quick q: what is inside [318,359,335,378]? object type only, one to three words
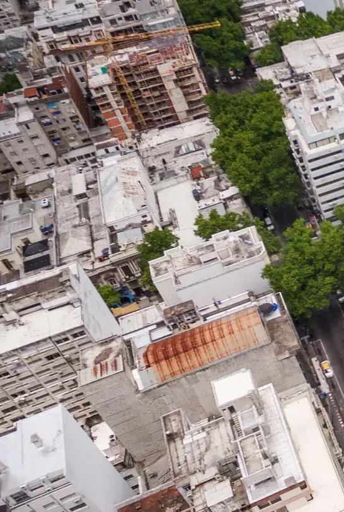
car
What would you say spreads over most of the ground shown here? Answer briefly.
buildings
